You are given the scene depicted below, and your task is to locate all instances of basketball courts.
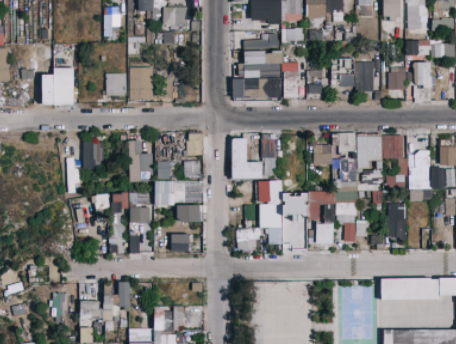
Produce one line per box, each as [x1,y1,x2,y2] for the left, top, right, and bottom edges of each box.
[338,286,377,344]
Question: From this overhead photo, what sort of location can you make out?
residential area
